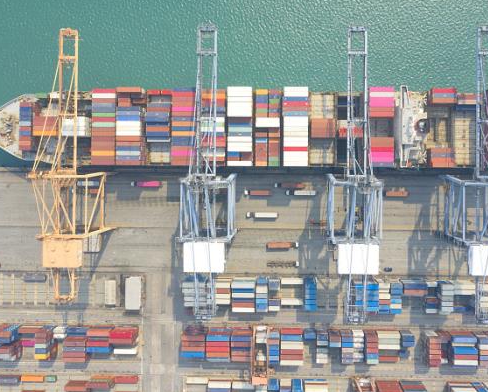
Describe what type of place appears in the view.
port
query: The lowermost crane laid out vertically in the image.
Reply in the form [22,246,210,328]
[251,321,277,386]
